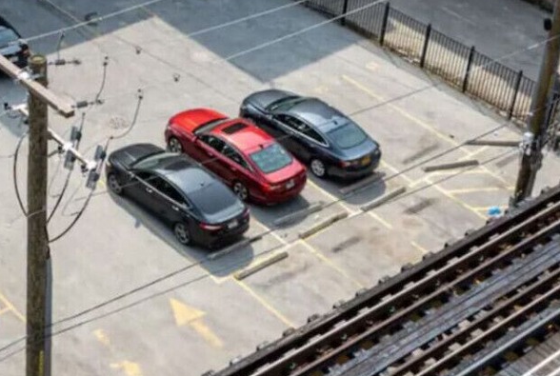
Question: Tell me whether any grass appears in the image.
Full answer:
No, the picture contains no grass.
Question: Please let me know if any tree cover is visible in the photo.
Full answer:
No, the scene doesn't show any tree cover.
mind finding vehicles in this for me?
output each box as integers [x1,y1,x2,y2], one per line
[0,12,35,76]
[107,143,254,256]
[164,105,311,209]
[238,83,387,184]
